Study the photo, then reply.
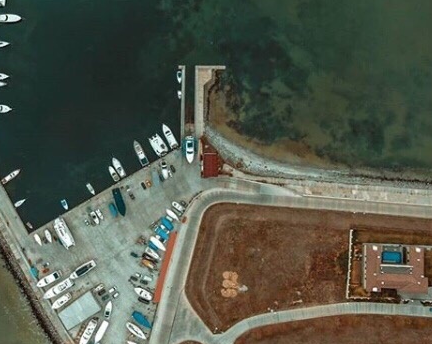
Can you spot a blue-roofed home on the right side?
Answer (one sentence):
No, there's no blue-roofed home to be seen on the right side.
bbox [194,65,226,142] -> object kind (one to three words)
pier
